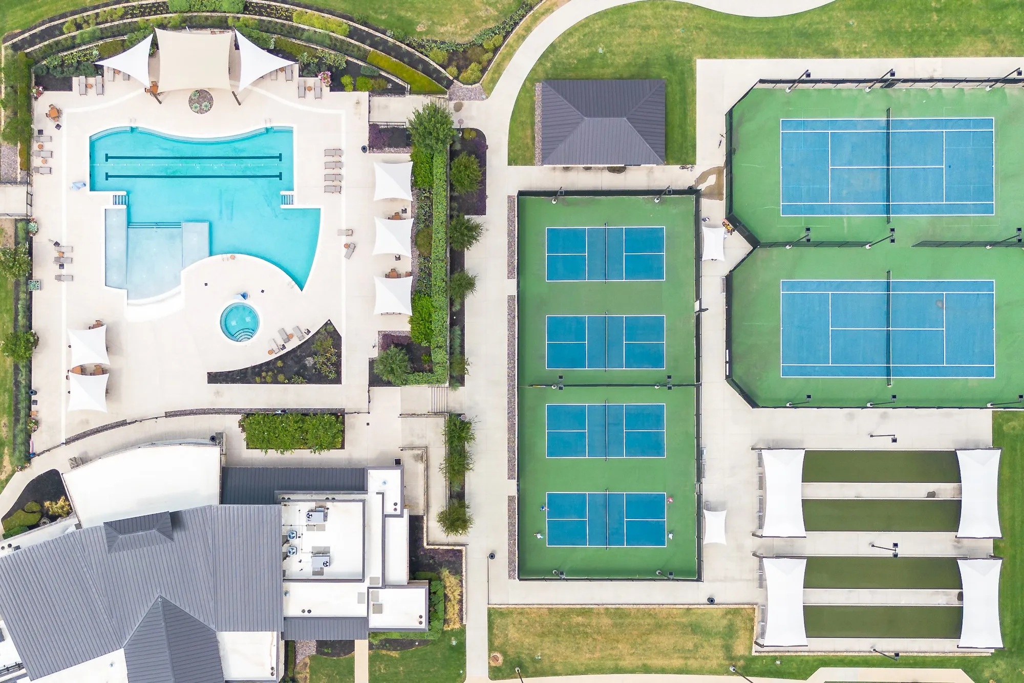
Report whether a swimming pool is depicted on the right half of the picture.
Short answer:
No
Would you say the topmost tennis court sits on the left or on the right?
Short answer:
right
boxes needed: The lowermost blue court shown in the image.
[546,492,665,547]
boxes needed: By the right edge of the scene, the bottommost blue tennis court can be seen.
[781,280,995,378]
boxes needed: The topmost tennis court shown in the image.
[781,107,995,226]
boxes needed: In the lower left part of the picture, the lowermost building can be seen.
[0,433,430,683]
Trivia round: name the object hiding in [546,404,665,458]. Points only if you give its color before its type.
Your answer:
blue sports court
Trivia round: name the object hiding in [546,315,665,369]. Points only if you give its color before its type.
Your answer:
blue sports court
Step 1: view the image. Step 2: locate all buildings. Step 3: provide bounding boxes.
[0,433,430,683]
[541,78,666,168]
